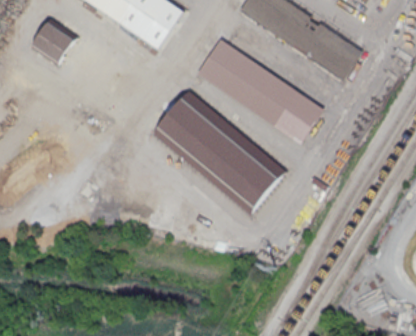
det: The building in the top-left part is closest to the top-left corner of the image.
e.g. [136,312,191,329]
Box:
[32,17,78,66]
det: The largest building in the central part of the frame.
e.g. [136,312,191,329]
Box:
[154,89,286,215]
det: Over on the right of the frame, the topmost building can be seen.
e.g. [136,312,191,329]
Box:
[242,0,362,81]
